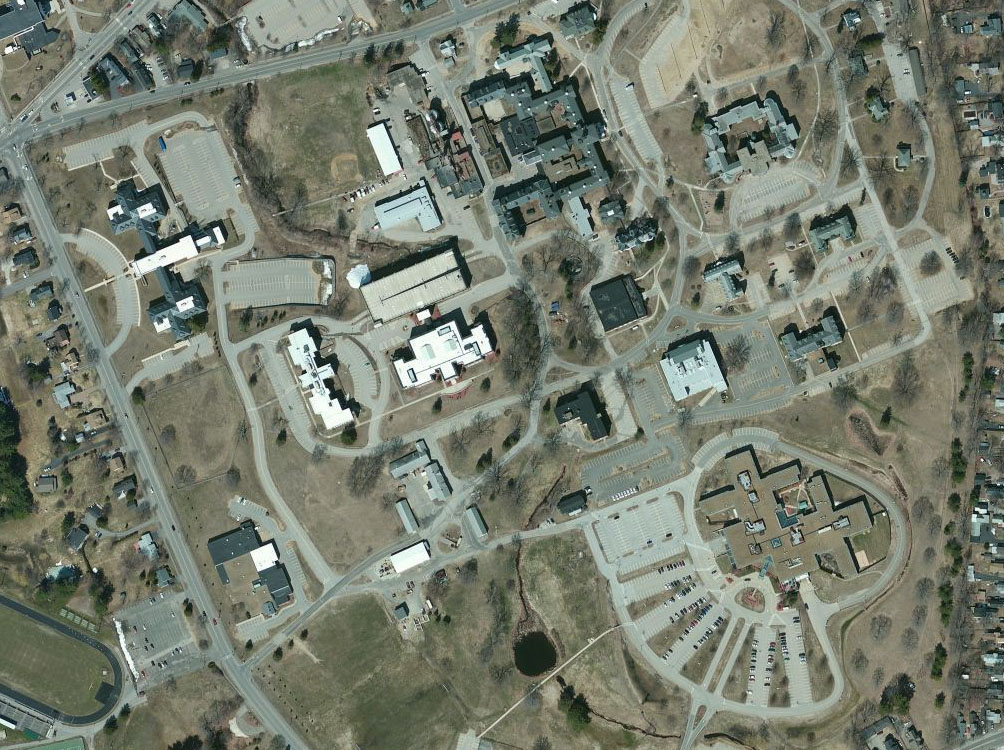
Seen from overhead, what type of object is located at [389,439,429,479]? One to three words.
barn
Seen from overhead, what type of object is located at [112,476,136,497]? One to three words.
house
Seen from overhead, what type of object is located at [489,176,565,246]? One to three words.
building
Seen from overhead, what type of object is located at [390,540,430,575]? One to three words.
shed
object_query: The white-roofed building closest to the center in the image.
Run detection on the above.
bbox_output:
[394,321,492,388]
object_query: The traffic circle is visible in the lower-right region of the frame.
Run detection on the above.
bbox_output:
[730,575,777,622]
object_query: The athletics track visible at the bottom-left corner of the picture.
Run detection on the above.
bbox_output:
[0,592,123,725]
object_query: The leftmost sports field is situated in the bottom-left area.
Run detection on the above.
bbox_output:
[0,605,111,713]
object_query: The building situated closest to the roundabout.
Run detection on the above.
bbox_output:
[699,450,873,584]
